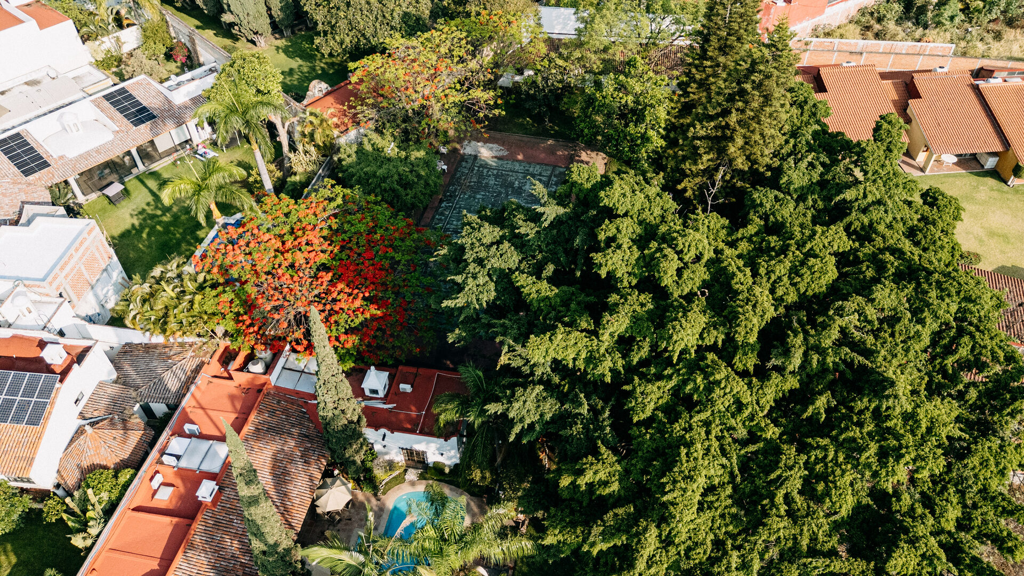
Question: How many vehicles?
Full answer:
There are no vehicles in this view.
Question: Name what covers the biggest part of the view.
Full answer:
What you mostly see from above here is trees.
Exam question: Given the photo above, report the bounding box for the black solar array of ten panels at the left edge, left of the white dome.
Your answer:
[0,130,50,174]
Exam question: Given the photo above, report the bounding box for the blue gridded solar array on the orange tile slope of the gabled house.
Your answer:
[0,370,56,424]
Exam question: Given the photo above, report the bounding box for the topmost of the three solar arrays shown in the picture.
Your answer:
[102,85,157,124]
